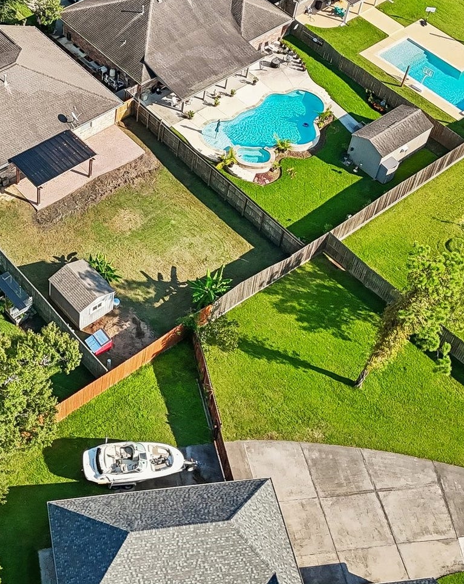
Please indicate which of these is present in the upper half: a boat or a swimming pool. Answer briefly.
swimming pool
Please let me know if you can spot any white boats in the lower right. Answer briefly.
No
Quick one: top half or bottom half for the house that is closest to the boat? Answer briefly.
bottom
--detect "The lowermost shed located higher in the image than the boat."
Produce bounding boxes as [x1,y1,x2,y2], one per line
[47,262,118,331]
